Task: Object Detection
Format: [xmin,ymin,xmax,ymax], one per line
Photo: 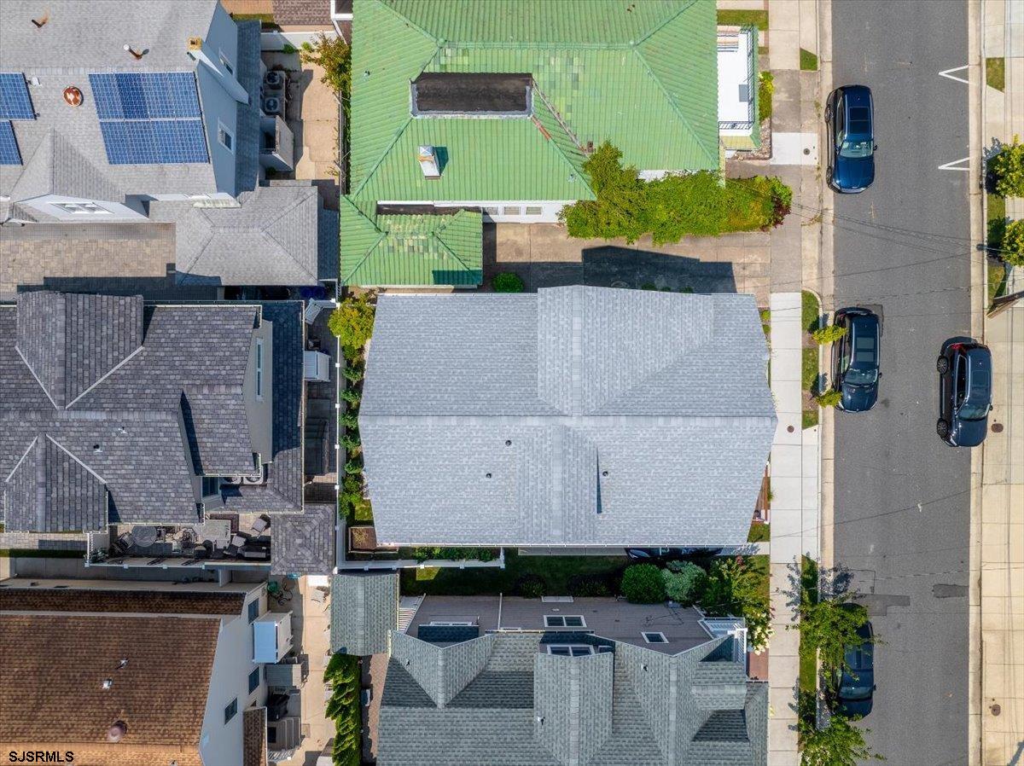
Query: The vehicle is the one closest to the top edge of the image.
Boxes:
[821,87,877,197]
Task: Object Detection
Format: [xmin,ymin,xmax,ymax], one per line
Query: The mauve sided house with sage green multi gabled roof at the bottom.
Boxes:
[376,594,768,766]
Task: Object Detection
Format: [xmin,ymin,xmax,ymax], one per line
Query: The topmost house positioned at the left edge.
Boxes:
[0,0,329,295]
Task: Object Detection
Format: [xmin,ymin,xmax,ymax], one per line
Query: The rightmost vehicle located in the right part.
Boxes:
[933,346,994,449]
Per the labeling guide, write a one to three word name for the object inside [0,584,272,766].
house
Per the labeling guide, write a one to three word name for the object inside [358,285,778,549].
house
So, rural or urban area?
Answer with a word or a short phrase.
urban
